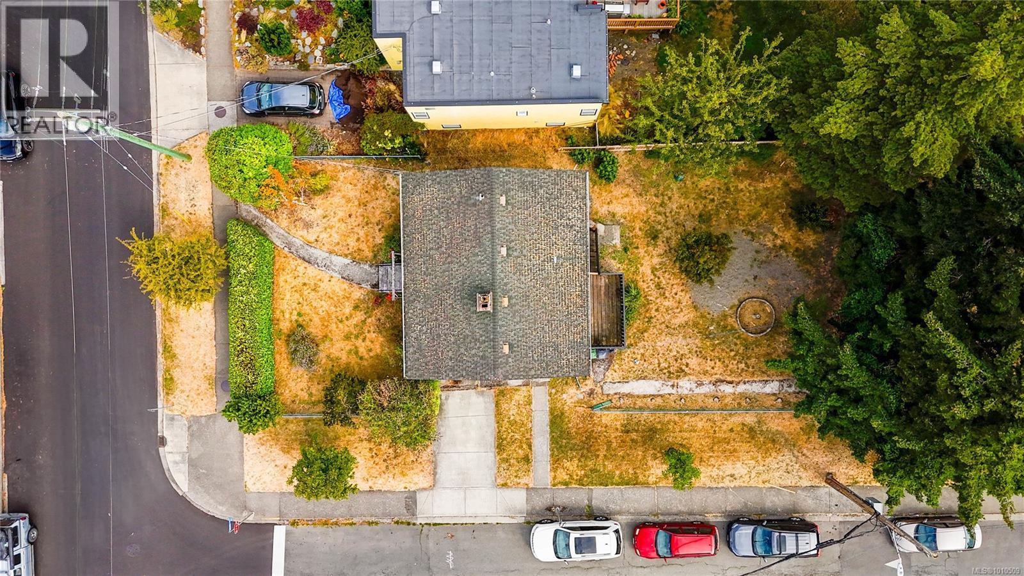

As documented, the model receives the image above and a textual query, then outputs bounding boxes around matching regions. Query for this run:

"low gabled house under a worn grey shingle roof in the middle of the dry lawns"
[399,167,593,382]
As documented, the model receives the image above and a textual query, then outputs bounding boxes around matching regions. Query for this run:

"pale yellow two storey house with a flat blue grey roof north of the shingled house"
[372,0,636,130]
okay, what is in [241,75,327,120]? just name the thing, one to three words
car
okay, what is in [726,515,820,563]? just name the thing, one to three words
car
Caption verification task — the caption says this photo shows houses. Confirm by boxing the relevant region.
[372,0,636,130]
[399,167,593,382]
